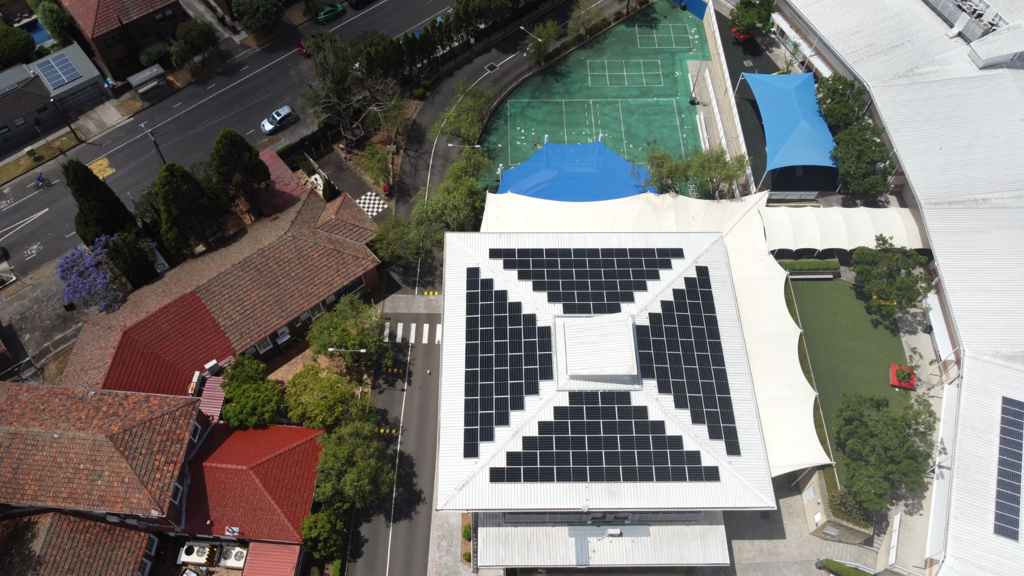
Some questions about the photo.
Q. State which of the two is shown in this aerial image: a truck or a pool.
pool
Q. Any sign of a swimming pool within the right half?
No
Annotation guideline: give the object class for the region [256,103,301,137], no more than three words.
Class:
car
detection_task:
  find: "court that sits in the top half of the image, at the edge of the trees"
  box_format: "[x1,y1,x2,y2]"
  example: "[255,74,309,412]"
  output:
[470,0,712,207]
